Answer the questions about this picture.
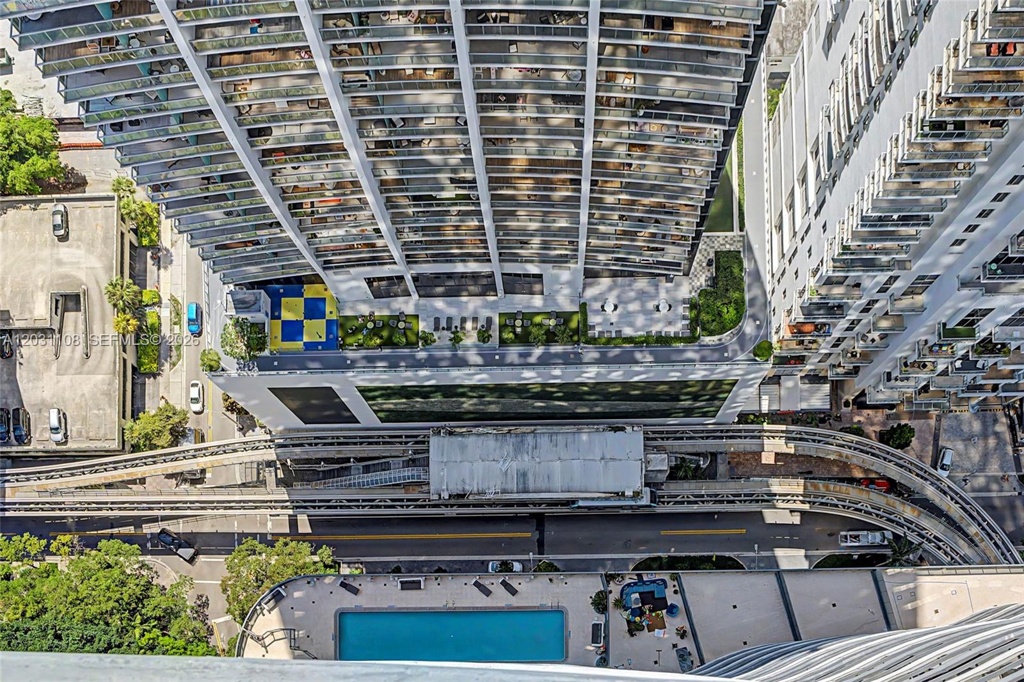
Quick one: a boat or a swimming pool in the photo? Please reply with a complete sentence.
It is a swimming pool that can be seen here.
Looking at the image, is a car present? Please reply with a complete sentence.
Yes, a car can be made out from above.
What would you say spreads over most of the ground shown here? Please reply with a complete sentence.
The bulk of the photo consists of buildings.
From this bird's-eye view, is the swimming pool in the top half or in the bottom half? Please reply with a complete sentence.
It is in the bottom half that the swimming pool appears.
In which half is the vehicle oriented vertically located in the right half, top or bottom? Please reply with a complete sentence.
Seen from above, the vehicle oriented vertically located in the right half lies in the bottom half of the view.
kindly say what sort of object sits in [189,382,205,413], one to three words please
car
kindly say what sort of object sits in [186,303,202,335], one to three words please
car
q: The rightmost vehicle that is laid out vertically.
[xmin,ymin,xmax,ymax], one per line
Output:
[935,445,955,479]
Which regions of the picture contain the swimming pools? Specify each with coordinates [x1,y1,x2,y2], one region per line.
[332,600,570,662]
